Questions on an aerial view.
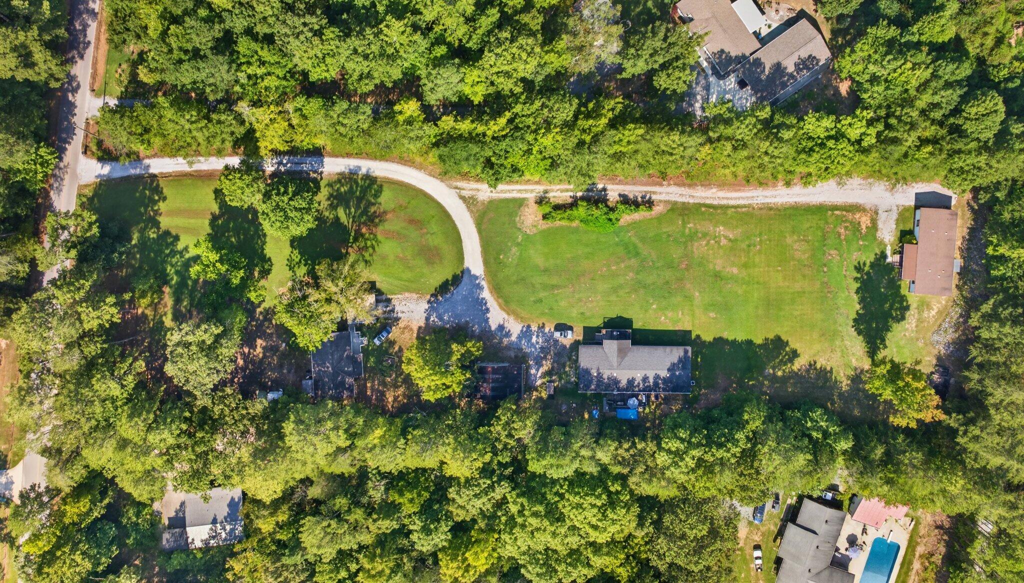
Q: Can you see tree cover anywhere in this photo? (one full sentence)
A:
Yes, there's tree cover in this view.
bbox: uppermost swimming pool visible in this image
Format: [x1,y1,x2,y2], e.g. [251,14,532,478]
[616,408,639,420]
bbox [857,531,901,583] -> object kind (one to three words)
swimming pool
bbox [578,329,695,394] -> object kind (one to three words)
house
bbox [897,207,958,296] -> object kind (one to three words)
house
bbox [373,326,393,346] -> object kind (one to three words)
car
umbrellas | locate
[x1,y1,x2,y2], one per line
[848,546,860,558]
[628,398,638,409]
